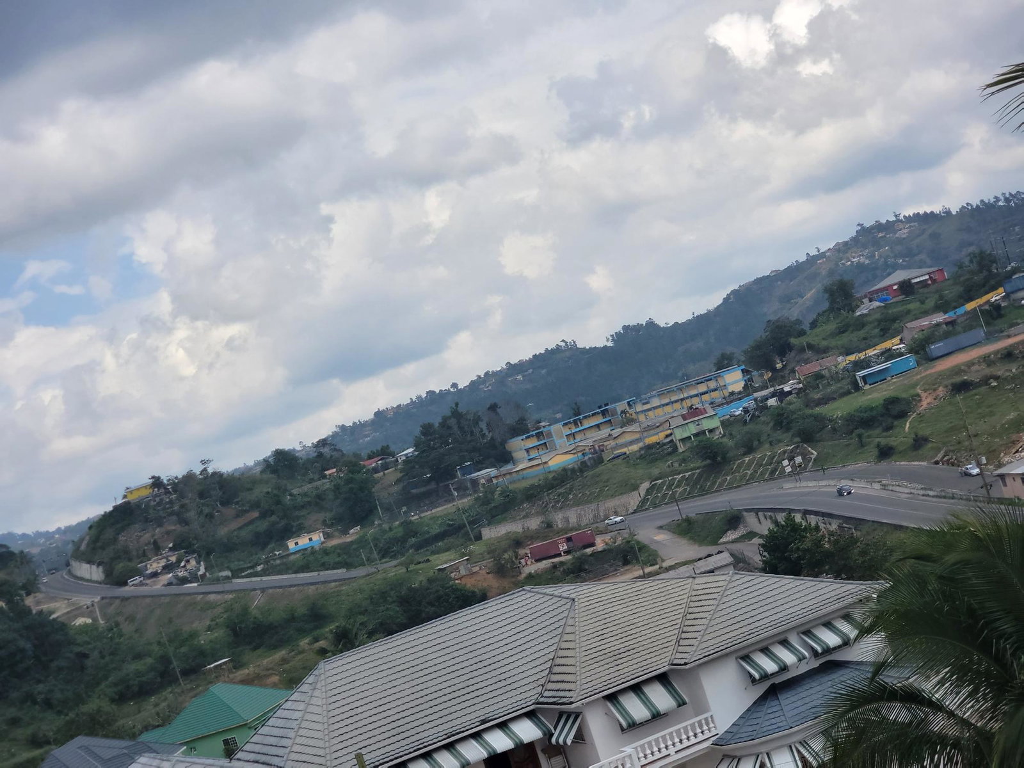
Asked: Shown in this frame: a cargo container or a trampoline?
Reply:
cargo container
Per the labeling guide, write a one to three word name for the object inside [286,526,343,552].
building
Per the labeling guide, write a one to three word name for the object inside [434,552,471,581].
shed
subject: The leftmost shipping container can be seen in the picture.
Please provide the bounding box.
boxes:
[520,530,602,564]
